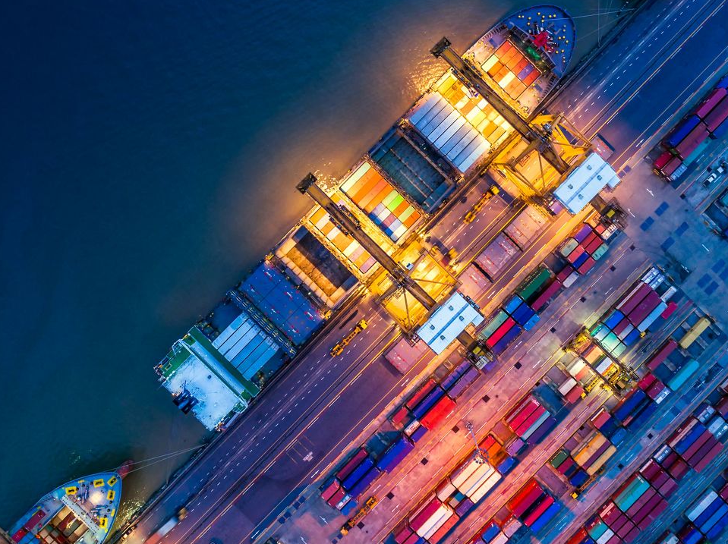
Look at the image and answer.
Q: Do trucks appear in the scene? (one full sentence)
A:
Yes, a truck is visible in the scene.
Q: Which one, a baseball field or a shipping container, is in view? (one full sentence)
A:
I can see a shipping container in this picture.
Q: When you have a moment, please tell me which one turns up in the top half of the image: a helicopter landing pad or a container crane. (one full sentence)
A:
Visible in the top half of the image is a container crane.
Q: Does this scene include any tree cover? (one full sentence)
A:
No, the picture contains no tree cover.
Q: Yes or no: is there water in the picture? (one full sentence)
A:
Yes, some water is visible.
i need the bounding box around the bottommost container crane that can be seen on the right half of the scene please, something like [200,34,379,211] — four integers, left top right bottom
[561,324,643,401]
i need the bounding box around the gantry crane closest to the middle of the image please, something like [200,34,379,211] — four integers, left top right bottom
[293,171,499,373]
